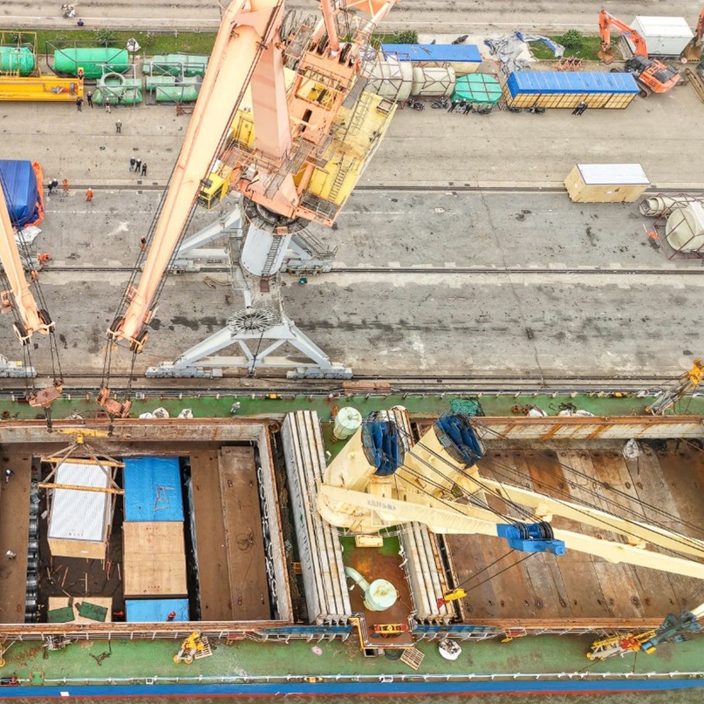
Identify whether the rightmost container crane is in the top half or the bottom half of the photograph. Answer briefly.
top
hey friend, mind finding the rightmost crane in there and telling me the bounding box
[88,0,409,429]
